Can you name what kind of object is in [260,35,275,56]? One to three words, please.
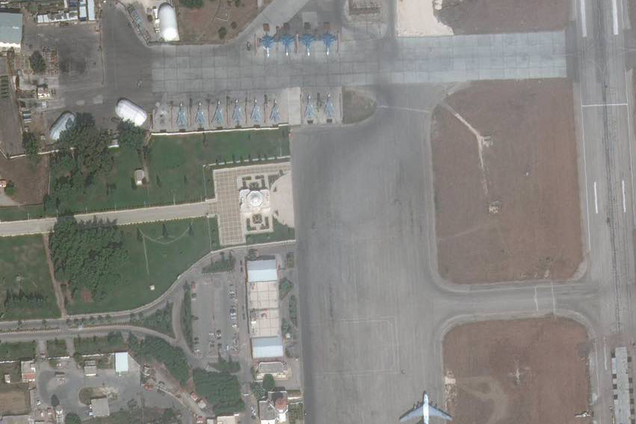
airplane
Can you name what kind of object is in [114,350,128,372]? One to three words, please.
building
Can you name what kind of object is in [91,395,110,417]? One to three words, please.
building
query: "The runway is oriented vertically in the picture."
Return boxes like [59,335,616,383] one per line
[576,0,636,424]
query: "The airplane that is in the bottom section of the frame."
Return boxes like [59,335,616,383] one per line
[401,394,452,424]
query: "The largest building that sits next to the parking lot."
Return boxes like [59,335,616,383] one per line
[247,258,284,363]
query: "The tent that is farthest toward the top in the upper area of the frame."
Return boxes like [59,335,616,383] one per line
[158,7,178,43]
